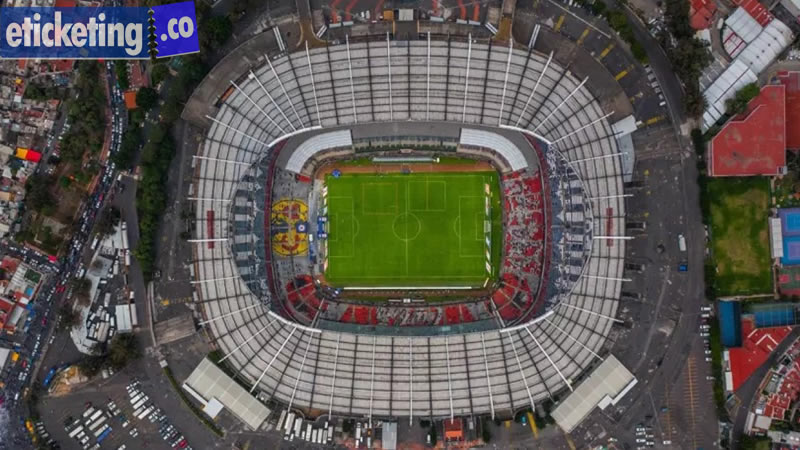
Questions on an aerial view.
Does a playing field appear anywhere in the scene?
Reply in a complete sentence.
Yes, there's a playing field here.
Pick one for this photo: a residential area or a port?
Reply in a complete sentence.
This looks like a residential area.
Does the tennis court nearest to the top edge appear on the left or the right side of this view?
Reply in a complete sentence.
It is on the right.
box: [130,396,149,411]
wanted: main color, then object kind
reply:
white vehicle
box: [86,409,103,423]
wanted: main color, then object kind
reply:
white vehicle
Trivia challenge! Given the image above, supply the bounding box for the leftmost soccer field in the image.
[326,173,501,288]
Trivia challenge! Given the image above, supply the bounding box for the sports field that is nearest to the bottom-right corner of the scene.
[706,177,773,298]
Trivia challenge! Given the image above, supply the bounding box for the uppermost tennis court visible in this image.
[778,208,800,236]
